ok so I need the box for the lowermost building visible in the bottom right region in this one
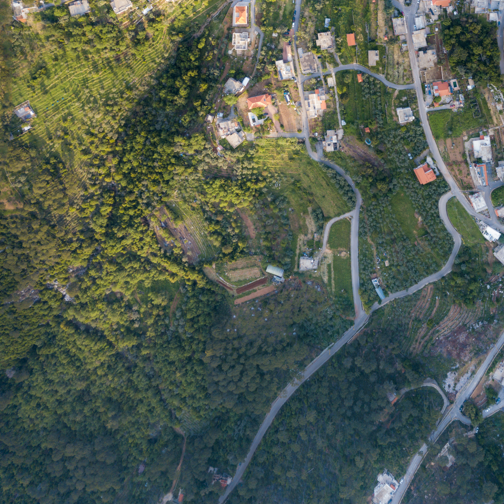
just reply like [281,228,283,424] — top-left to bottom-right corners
[375,469,397,504]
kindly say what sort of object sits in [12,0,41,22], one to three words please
house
